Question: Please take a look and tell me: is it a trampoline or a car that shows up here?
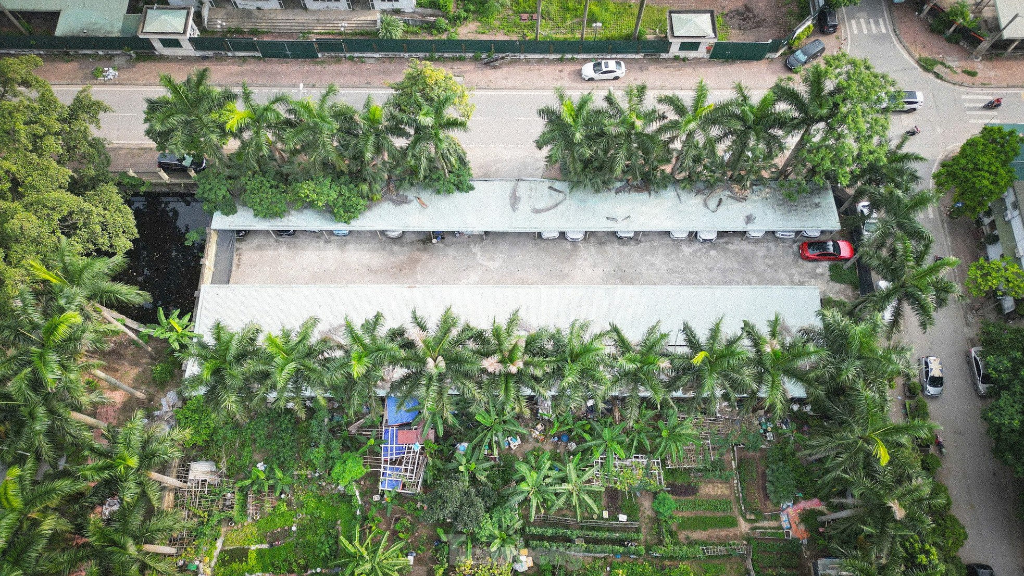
car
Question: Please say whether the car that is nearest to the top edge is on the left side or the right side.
right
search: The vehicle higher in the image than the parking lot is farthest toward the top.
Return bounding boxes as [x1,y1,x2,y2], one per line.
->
[817,2,845,40]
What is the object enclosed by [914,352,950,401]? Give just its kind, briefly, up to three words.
car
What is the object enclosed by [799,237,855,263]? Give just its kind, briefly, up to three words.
car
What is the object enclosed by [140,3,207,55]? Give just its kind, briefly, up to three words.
building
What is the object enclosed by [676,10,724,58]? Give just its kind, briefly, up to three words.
building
